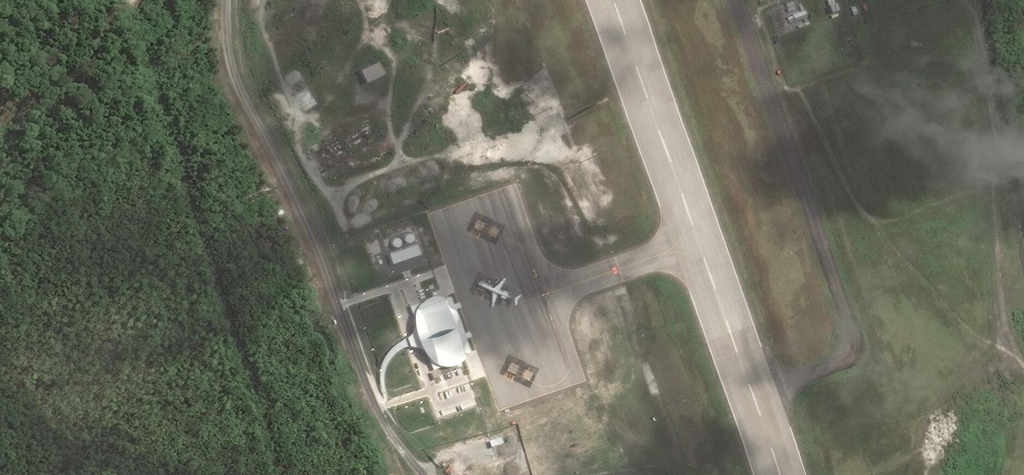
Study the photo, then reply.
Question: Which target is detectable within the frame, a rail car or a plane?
plane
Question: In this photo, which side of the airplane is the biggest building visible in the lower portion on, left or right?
to the left of it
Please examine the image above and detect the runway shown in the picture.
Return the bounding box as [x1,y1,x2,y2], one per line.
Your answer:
[585,0,808,475]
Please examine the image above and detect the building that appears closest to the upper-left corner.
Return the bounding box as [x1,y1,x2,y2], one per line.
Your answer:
[286,70,318,111]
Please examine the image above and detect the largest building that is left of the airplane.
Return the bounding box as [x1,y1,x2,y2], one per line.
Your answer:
[413,297,472,368]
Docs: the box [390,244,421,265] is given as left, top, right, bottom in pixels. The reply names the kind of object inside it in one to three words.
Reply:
building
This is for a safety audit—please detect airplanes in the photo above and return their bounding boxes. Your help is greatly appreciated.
[478,279,521,308]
